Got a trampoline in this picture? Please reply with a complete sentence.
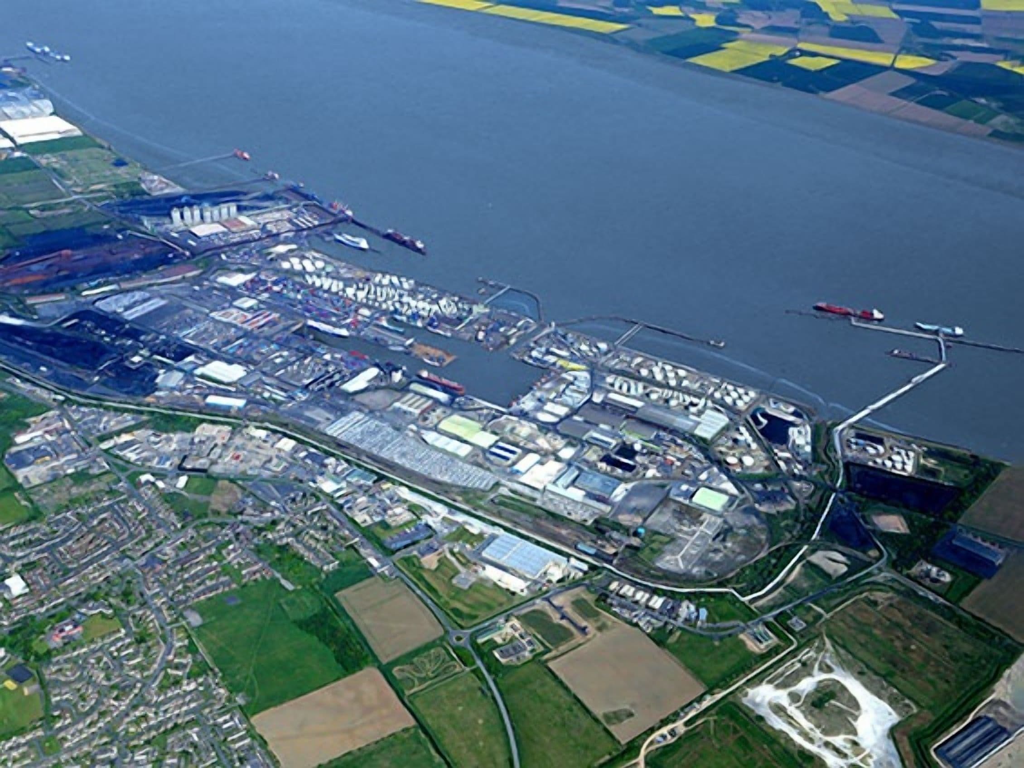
No, I find no trampoline anywhere in the image.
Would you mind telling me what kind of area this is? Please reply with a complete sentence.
The area seen from above is a port.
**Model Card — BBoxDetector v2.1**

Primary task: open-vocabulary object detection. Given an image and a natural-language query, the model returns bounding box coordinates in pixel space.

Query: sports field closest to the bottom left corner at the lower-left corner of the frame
[0,677,44,740]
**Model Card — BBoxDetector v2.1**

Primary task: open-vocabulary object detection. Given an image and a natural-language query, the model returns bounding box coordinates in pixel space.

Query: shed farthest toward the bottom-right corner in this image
[934,716,1010,768]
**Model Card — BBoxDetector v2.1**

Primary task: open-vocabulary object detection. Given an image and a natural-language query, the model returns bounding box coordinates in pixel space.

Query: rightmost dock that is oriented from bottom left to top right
[833,363,947,430]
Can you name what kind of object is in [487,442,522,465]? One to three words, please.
shed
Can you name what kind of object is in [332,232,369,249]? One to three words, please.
ship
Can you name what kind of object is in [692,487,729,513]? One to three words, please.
building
